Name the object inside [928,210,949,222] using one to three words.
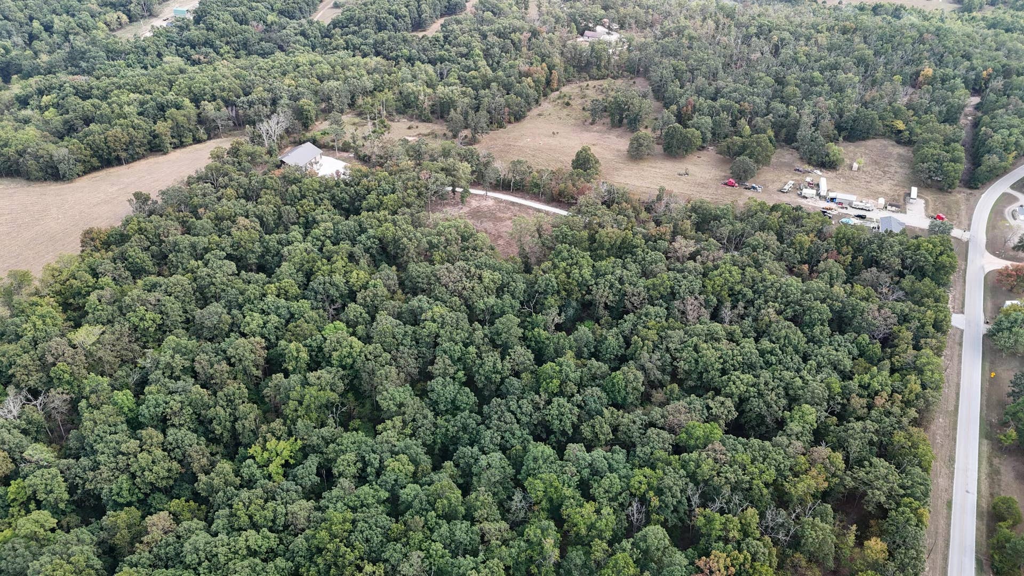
vehicle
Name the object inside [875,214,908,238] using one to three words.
house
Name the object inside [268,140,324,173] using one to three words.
building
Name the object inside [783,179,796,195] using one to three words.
vehicle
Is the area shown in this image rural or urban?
rural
